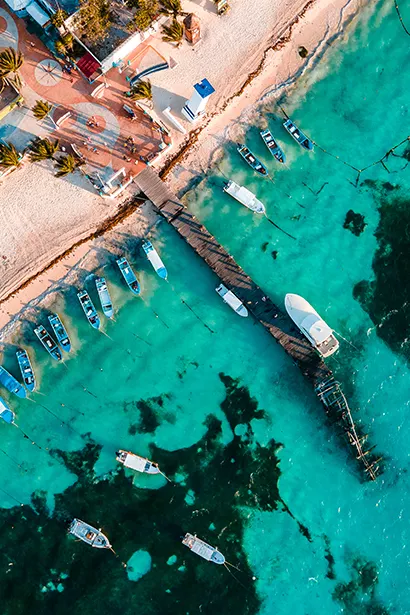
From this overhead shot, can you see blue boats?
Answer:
Yes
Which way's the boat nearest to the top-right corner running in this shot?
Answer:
on a diagonal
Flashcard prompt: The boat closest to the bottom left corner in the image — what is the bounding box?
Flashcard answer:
[68,521,110,550]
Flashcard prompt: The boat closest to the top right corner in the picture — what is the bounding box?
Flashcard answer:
[283,116,315,150]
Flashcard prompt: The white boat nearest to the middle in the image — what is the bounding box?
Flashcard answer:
[214,283,247,316]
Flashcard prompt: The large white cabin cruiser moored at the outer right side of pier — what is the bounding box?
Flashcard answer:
[287,293,342,359]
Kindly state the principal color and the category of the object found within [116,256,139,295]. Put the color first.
blue boat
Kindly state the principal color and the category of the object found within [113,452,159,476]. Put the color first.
white boat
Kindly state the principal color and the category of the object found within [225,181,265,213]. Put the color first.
white boat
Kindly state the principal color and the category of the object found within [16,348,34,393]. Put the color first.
blue boat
